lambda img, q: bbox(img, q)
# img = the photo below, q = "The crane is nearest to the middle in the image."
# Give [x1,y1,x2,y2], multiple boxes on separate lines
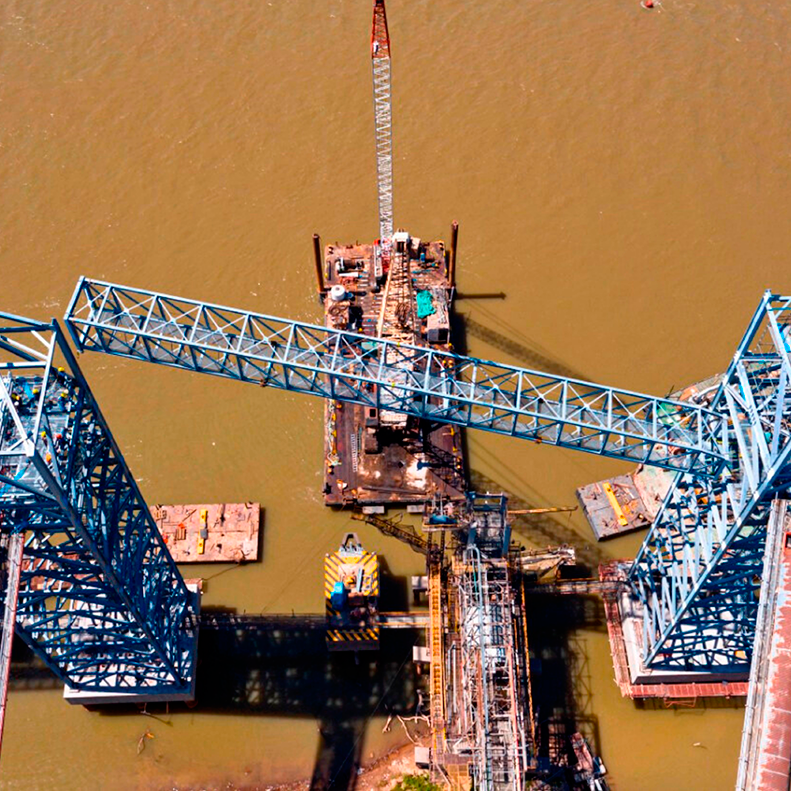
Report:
[342,226,442,453]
